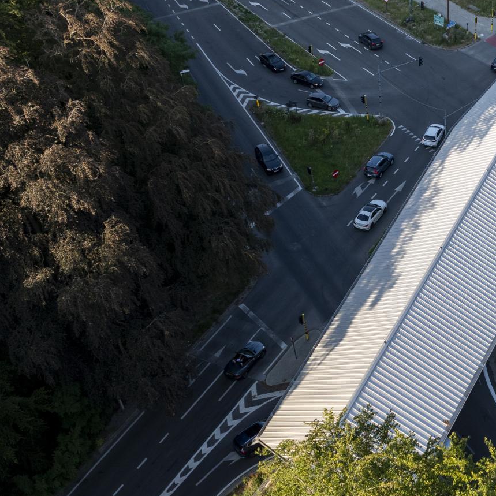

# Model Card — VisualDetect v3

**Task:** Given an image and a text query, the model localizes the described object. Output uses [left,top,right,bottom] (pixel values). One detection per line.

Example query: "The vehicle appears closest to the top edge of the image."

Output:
[356,34,386,50]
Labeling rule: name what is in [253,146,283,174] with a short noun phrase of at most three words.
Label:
car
